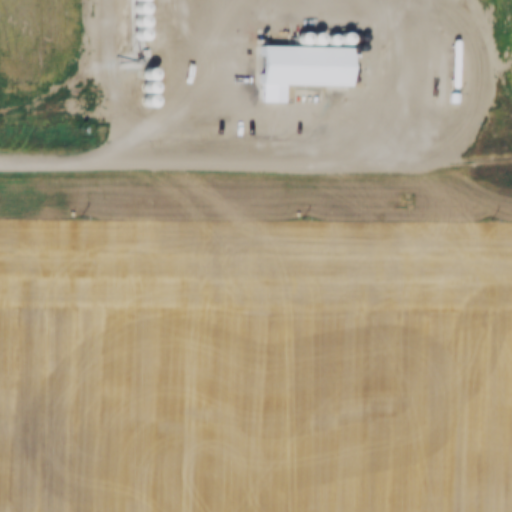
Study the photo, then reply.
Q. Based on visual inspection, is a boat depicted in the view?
No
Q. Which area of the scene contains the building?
top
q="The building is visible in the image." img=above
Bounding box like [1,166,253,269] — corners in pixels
[256,42,361,106]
